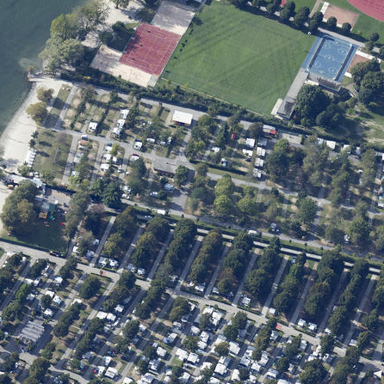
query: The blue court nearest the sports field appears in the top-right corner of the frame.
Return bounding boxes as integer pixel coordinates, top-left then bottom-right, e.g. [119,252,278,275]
[301,34,359,83]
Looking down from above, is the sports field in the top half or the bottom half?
top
